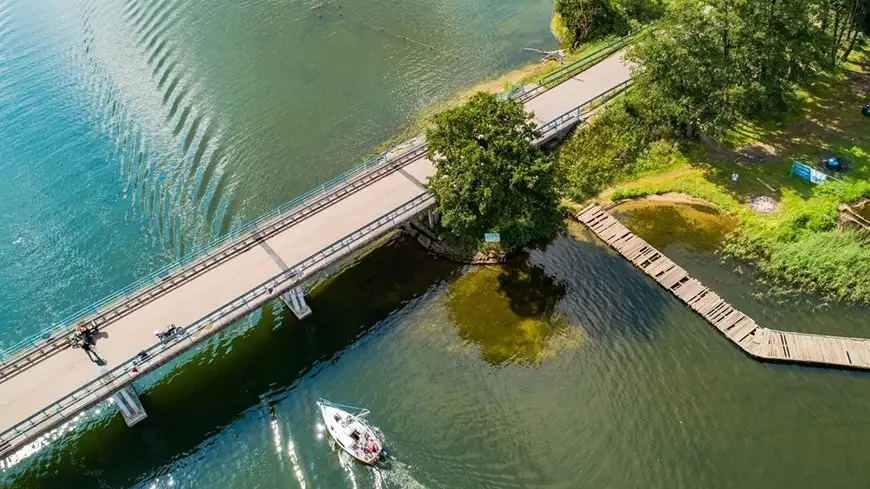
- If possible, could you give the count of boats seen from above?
1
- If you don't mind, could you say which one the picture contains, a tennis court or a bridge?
bridge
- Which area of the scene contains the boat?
bottom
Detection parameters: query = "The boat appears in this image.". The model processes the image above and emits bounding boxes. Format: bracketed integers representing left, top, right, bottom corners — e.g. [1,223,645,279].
[317,398,387,472]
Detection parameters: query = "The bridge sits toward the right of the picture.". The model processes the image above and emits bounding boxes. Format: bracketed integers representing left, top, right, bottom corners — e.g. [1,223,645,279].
[492,82,582,150]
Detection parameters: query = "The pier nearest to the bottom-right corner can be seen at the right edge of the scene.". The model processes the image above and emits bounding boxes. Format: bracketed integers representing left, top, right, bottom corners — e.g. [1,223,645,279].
[577,202,870,373]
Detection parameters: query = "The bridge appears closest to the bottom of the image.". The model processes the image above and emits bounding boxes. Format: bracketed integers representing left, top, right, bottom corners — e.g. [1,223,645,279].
[0,150,447,477]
